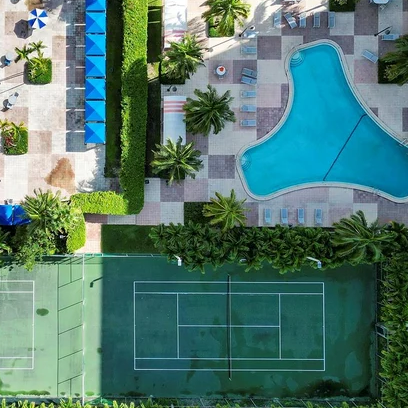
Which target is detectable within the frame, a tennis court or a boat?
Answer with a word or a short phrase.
tennis court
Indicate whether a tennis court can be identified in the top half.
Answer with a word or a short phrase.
No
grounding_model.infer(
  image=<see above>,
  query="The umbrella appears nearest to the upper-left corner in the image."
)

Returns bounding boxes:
[28,9,49,30]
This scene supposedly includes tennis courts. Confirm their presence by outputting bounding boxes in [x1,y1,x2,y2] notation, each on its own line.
[0,254,84,398]
[84,254,377,398]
